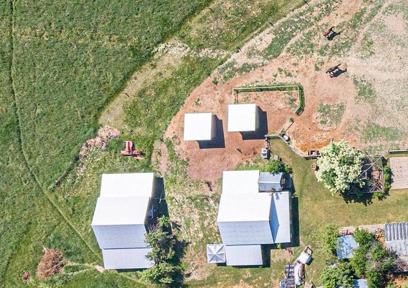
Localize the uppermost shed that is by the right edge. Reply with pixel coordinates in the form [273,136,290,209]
[385,222,408,241]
